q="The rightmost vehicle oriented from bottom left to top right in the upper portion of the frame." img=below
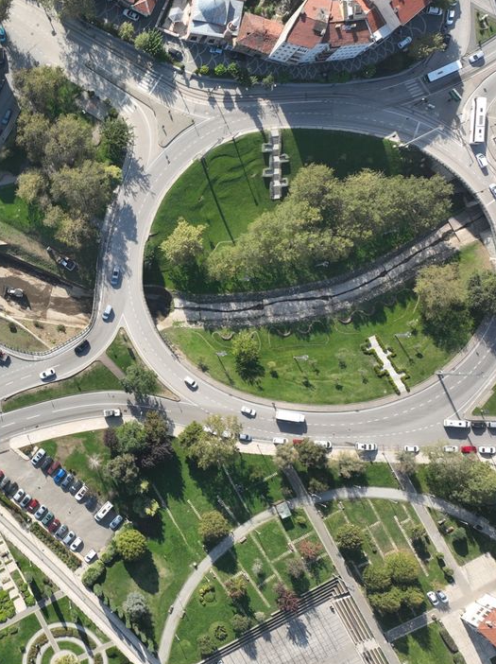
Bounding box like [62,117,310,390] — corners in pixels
[468,52,484,65]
